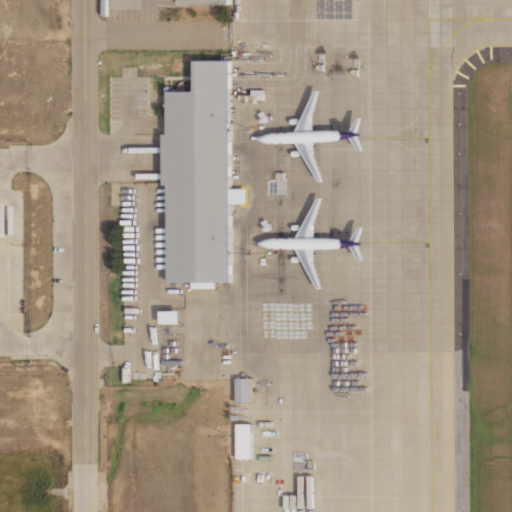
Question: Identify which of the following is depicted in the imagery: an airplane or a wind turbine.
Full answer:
I can see an airplane in this picture.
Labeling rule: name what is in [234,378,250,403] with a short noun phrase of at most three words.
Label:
shed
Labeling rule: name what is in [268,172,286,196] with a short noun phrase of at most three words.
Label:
work vehicle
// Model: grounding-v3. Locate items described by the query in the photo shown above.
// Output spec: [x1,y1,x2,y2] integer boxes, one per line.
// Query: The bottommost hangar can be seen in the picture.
[235,424,252,460]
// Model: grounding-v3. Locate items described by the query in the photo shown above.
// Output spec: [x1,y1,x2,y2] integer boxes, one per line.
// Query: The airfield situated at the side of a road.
[232,0,512,512]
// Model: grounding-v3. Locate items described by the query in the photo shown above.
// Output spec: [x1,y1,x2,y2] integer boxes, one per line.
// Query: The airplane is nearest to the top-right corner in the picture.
[257,90,362,181]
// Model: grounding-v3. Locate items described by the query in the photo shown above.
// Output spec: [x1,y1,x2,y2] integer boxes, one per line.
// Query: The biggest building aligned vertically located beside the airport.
[161,61,234,289]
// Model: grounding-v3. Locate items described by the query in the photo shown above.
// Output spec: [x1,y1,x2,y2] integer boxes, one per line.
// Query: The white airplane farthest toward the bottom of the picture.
[257,199,362,289]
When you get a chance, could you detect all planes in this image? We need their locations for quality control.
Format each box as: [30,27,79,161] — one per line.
[257,199,362,289]
[257,90,362,181]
